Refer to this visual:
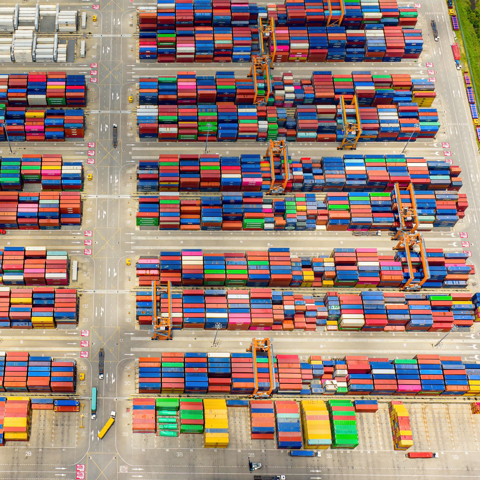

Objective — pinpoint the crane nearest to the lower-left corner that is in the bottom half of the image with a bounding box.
[150,279,173,341]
